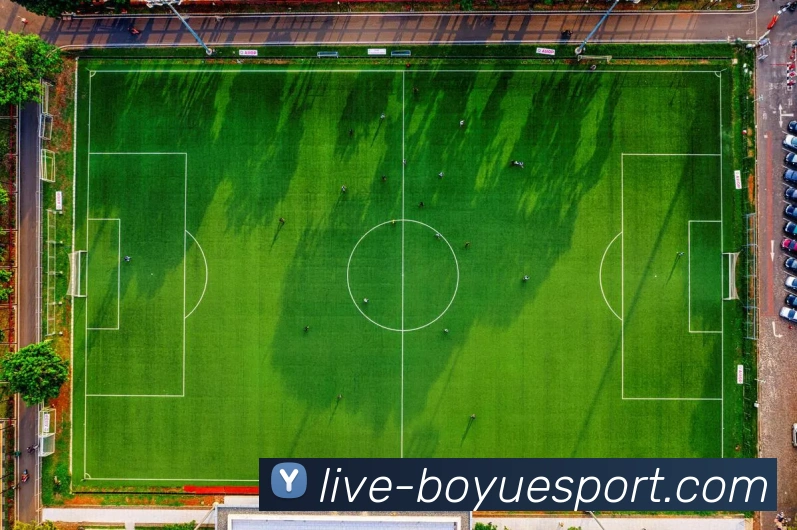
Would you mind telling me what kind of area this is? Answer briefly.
sports ground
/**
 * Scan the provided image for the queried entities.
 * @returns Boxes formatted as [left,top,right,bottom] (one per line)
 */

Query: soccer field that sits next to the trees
[73,58,740,493]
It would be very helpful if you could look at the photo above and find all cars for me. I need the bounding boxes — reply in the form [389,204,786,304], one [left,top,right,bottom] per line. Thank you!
[782,187,797,202]
[783,276,797,290]
[778,238,797,254]
[782,257,797,271]
[783,293,797,307]
[781,136,797,151]
[781,170,797,184]
[782,221,797,235]
[778,307,797,324]
[783,204,797,218]
[786,119,797,132]
[782,153,797,167]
